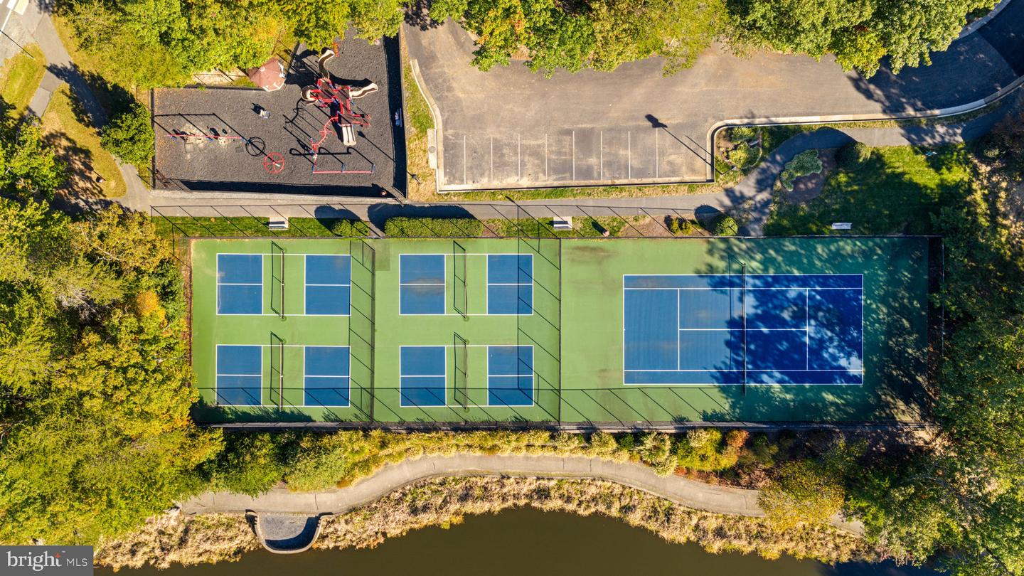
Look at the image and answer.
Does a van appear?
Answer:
No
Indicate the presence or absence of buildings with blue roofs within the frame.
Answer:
No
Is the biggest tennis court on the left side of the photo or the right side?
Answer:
right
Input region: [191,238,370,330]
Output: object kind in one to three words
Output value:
sports court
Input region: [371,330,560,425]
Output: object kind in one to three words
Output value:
sports court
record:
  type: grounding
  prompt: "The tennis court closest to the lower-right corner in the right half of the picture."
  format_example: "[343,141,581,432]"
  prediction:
[560,238,928,425]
